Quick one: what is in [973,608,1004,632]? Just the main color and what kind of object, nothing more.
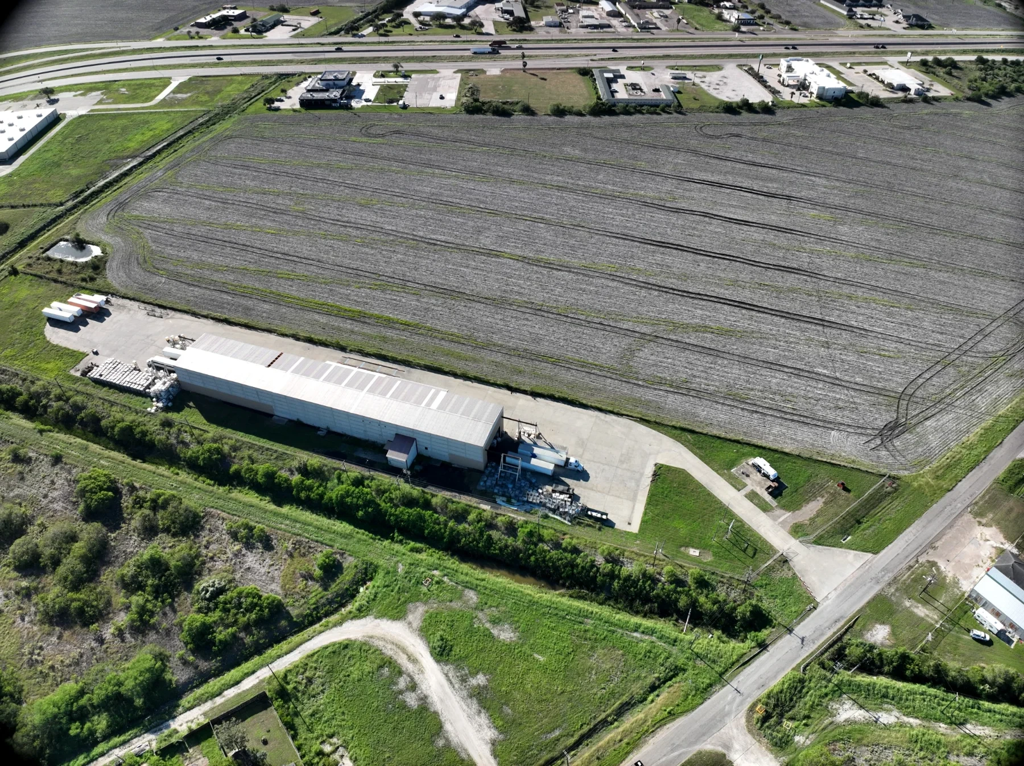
white vehicle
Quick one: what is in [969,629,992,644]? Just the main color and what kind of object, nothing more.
white vehicle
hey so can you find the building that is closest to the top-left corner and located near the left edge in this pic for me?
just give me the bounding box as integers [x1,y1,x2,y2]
[0,106,56,160]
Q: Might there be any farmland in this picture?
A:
Yes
